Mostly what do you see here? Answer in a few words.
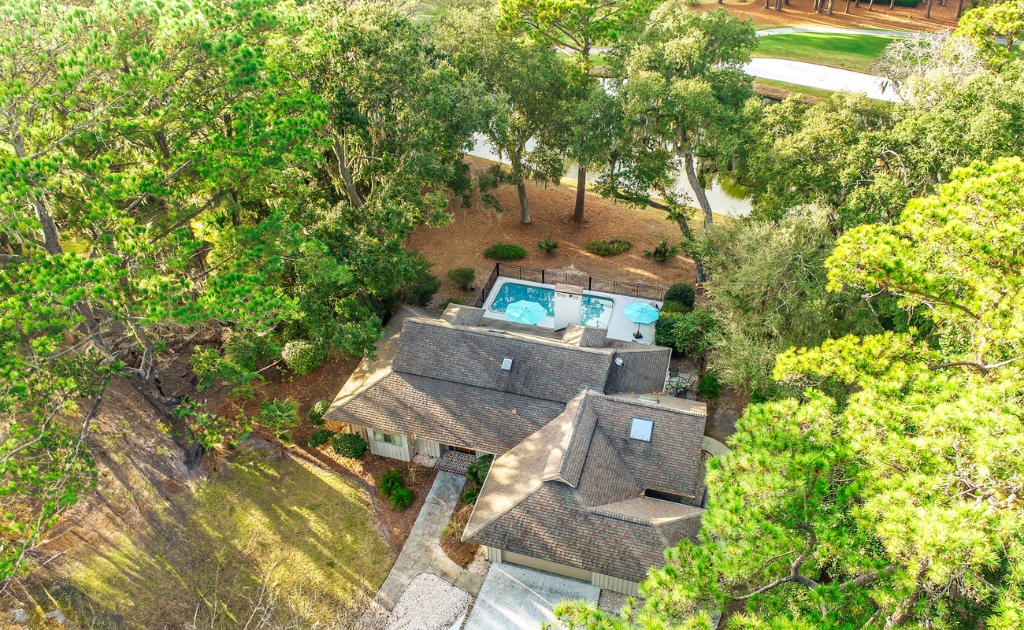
trees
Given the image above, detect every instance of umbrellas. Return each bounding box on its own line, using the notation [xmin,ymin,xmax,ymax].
[505,302,547,326]
[622,307,659,339]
